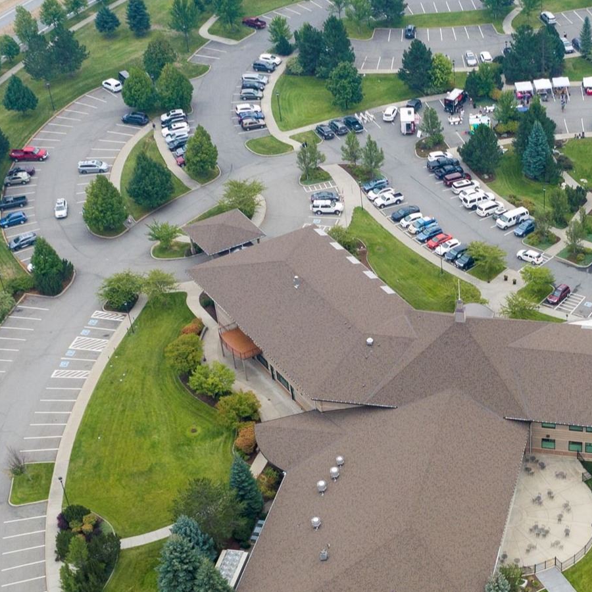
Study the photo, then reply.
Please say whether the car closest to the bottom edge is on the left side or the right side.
right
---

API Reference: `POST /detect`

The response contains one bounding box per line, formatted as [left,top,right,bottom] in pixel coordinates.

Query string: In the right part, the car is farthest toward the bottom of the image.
[548,279,569,305]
